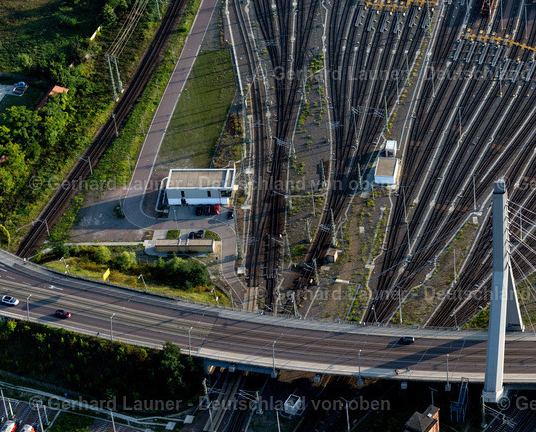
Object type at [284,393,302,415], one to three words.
building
